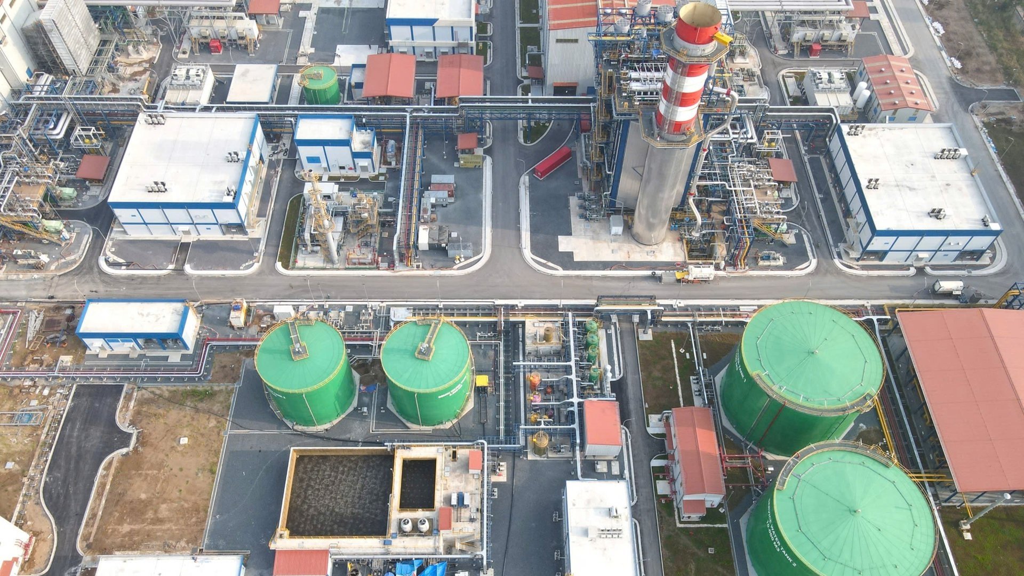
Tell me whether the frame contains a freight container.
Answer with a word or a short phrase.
Yes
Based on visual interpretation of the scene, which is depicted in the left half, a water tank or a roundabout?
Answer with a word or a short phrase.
water tank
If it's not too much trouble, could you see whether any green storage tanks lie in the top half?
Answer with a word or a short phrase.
Yes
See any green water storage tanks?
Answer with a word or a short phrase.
Yes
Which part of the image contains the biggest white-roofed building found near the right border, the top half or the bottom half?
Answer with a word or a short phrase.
top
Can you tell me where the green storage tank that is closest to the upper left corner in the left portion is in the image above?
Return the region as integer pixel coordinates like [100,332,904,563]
[295,60,346,110]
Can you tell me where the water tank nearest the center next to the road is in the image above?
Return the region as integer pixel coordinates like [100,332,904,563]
[382,313,475,427]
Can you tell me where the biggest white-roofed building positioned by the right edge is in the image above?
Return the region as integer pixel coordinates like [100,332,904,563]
[822,122,1004,267]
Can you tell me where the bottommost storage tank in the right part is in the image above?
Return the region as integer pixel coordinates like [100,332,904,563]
[740,438,941,576]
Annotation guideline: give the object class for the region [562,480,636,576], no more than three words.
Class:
building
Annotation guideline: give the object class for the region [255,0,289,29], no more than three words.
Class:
shed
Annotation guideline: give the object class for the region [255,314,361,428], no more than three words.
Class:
water tank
